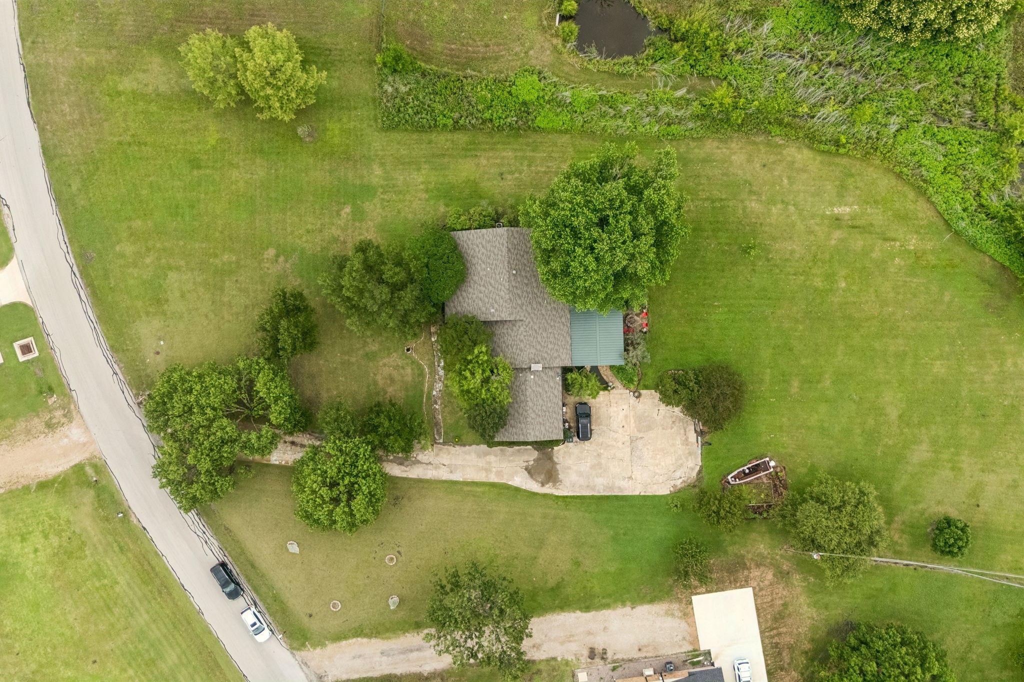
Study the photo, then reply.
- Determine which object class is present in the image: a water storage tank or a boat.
boat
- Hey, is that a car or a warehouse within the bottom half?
car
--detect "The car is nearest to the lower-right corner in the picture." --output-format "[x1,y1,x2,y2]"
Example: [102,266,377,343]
[733,653,754,682]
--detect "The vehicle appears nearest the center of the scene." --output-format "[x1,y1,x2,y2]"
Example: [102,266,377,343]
[575,401,593,440]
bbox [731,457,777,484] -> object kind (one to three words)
boat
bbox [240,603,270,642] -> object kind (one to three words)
car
